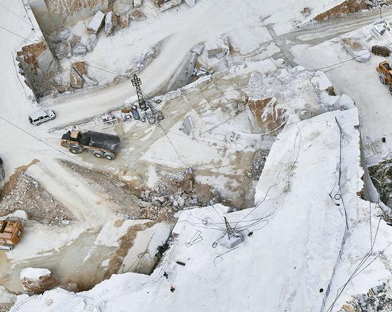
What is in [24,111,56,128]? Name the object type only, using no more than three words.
car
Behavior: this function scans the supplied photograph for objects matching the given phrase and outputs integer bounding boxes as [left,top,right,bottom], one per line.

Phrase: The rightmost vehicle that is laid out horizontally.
[54,130,118,159]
